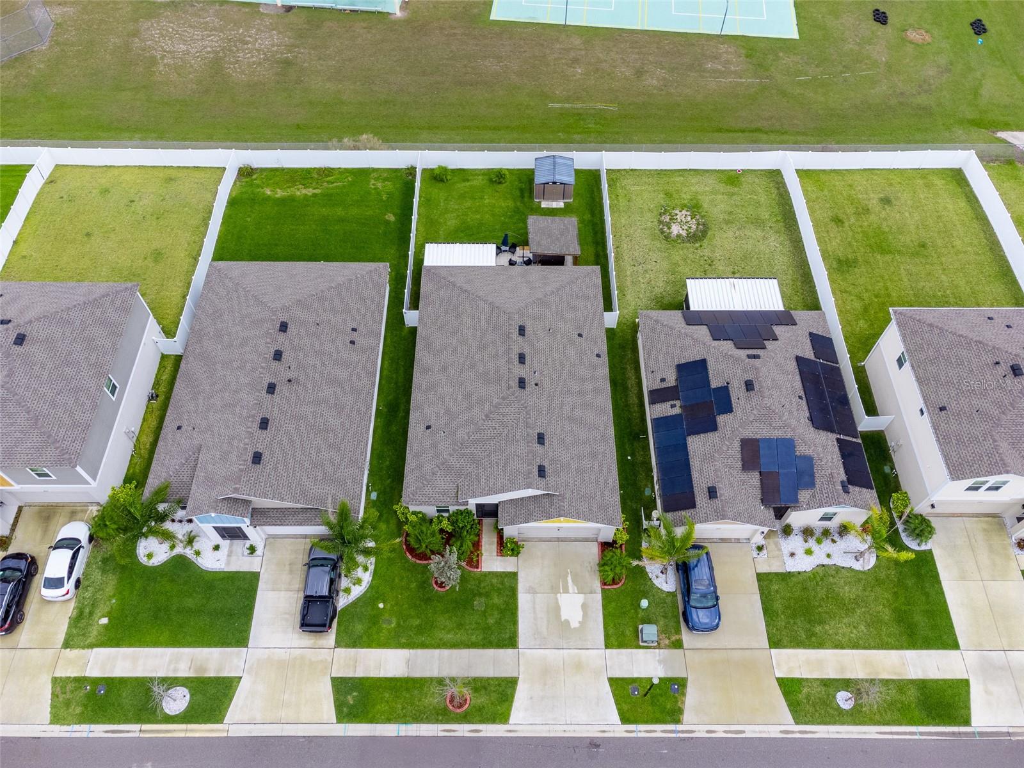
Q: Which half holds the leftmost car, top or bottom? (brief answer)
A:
bottom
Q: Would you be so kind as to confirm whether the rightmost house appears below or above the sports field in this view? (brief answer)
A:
below it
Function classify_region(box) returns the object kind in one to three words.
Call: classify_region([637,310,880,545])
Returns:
house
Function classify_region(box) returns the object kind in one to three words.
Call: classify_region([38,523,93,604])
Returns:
car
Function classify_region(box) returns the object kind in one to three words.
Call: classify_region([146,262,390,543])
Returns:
house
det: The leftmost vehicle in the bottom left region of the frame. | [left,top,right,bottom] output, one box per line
[0,549,38,636]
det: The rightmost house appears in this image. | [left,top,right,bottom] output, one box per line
[859,307,1024,518]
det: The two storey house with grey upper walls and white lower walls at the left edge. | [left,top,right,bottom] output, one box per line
[0,285,162,536]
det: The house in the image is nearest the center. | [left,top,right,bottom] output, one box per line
[401,265,622,543]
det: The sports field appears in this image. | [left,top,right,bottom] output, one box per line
[0,0,1024,160]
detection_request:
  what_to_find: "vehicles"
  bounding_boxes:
[301,539,345,634]
[38,523,93,604]
[0,549,38,636]
[675,542,722,632]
